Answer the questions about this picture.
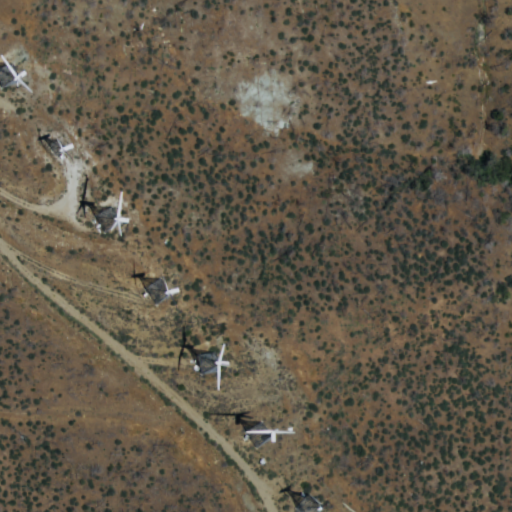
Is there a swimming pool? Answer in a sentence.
No, the scene contains no swimming pool.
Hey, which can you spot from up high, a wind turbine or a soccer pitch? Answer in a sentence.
Looking from above, you can make out a wind turbine.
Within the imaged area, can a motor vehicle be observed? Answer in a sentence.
No, I can see no motor vehicle in this picture.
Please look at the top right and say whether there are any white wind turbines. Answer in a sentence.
No, I can find no white wind turbine at the top right.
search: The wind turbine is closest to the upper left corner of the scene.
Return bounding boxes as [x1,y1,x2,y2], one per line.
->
[0,54,26,90]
